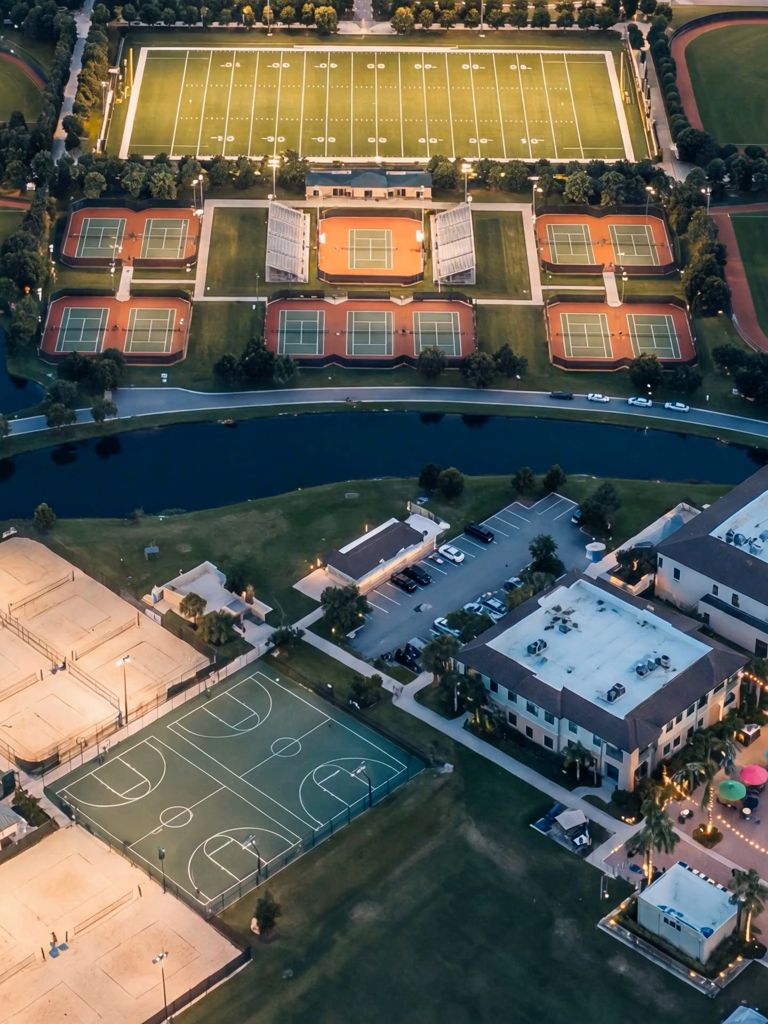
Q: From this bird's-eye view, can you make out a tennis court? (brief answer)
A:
Yes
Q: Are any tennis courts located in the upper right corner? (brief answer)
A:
Yes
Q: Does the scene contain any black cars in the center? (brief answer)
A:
Yes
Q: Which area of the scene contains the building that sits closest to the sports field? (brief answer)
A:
top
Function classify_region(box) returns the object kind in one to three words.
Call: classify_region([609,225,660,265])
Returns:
tennis court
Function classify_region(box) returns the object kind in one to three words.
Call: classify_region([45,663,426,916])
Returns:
basketball court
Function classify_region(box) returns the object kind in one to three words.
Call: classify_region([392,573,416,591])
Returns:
car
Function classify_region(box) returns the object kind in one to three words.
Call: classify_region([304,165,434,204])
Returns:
building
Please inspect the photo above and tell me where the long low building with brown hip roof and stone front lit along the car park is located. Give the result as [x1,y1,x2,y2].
[325,513,445,593]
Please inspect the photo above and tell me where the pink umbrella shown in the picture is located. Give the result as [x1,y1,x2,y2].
[740,768,767,789]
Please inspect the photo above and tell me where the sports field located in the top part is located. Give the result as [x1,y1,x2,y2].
[128,50,625,158]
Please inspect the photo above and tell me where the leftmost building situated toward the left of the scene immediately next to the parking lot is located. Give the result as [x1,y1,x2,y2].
[143,563,273,632]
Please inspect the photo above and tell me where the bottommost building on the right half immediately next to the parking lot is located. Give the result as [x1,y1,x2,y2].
[454,570,768,786]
